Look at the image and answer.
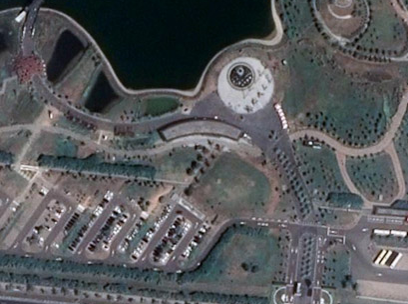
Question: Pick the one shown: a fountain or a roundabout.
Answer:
fountain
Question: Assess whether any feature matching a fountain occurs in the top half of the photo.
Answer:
Yes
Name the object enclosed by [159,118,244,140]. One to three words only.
building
